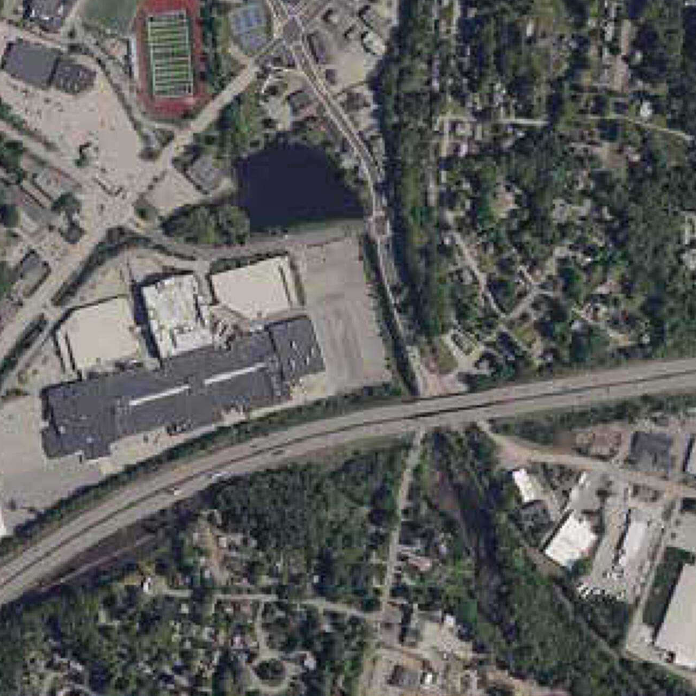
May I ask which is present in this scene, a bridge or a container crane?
bridge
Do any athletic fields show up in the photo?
Yes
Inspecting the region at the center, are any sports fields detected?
No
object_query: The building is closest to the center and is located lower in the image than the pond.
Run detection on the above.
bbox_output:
[269,317,325,379]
